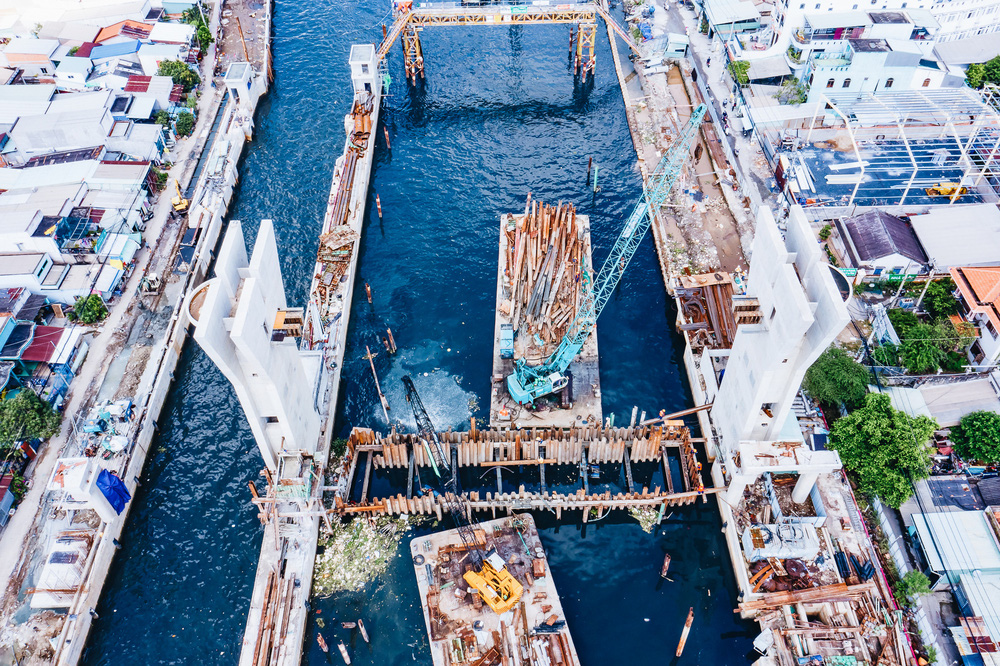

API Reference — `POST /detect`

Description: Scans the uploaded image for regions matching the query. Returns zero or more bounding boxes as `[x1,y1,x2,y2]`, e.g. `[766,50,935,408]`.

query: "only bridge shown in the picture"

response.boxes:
[403,0,603,94]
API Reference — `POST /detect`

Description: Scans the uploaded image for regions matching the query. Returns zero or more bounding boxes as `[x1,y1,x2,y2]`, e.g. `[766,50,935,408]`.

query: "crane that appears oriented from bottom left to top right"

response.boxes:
[507,101,707,403]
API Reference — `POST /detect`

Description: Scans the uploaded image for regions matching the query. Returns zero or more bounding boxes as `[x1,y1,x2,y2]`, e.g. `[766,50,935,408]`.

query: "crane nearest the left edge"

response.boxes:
[399,372,521,618]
